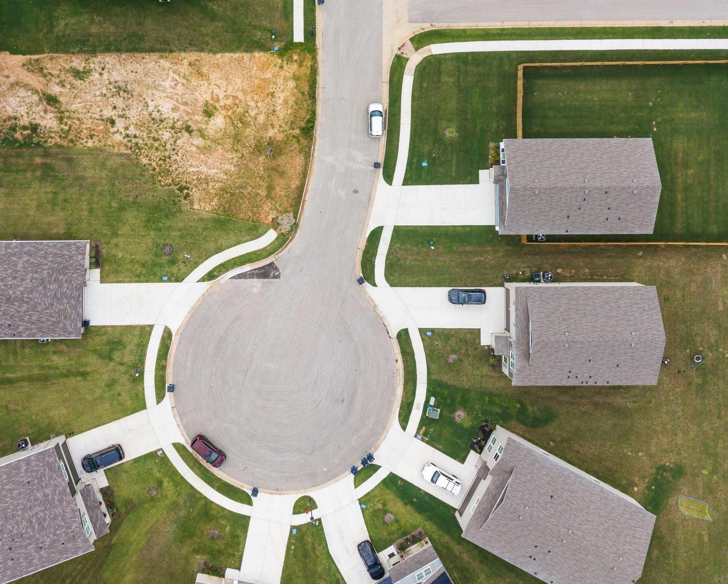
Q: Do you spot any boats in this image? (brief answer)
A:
No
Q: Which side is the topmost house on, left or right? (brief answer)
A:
right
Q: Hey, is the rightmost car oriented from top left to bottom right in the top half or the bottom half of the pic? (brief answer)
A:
bottom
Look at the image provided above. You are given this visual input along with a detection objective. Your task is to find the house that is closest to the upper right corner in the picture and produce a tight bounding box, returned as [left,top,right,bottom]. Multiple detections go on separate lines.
[489,138,662,235]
